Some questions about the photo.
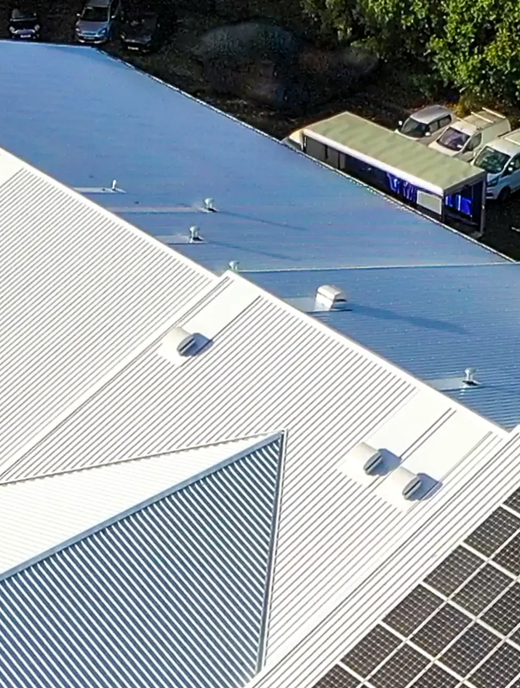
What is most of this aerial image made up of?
buildings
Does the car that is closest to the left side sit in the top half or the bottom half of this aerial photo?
top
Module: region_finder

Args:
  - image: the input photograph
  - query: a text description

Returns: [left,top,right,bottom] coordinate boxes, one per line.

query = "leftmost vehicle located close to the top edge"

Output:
[4,0,43,36]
